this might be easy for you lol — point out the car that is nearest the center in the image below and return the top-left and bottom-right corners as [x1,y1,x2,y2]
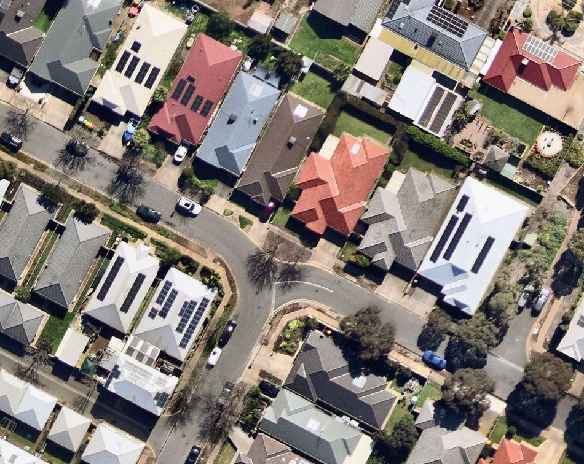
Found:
[258,199,275,222]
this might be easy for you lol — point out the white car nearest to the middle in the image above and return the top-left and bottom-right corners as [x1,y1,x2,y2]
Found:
[175,197,202,215]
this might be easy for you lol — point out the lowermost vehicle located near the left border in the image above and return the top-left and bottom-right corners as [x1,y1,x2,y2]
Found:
[0,132,24,152]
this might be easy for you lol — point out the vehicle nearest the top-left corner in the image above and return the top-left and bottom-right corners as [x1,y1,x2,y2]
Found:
[3,67,22,97]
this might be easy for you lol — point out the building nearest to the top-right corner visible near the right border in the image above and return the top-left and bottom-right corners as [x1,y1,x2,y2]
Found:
[484,25,584,129]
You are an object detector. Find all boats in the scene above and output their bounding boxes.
[124,115,139,145]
